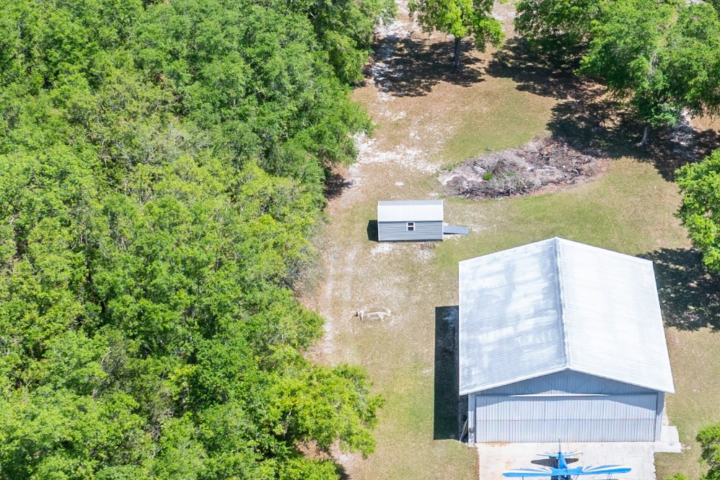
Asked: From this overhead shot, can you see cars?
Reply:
No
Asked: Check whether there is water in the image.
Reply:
No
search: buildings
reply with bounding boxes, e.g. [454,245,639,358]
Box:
[377,202,468,240]
[458,237,674,443]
